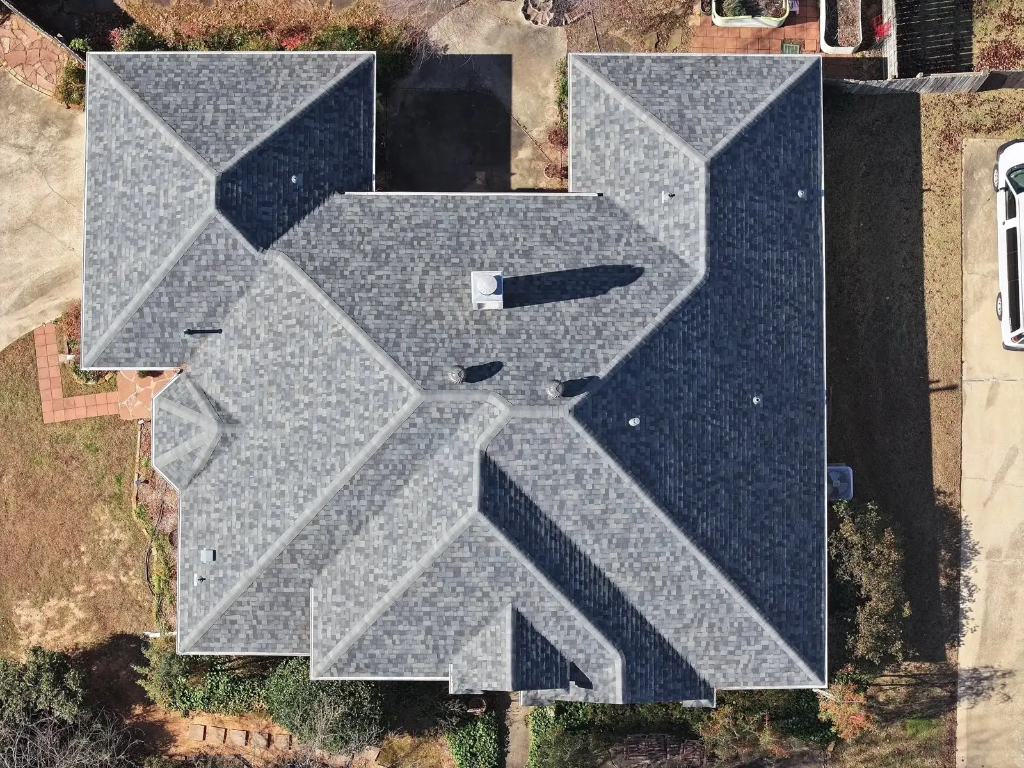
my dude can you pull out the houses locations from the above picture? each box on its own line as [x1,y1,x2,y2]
[82,53,827,706]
